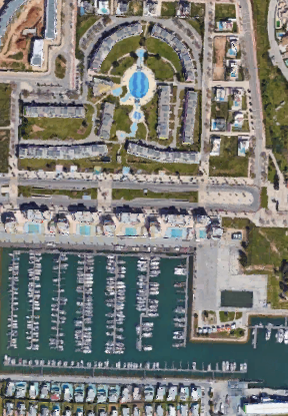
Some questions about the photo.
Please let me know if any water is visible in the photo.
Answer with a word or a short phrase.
Yes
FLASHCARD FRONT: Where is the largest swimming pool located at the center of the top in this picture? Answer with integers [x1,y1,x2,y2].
[129,70,148,98]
